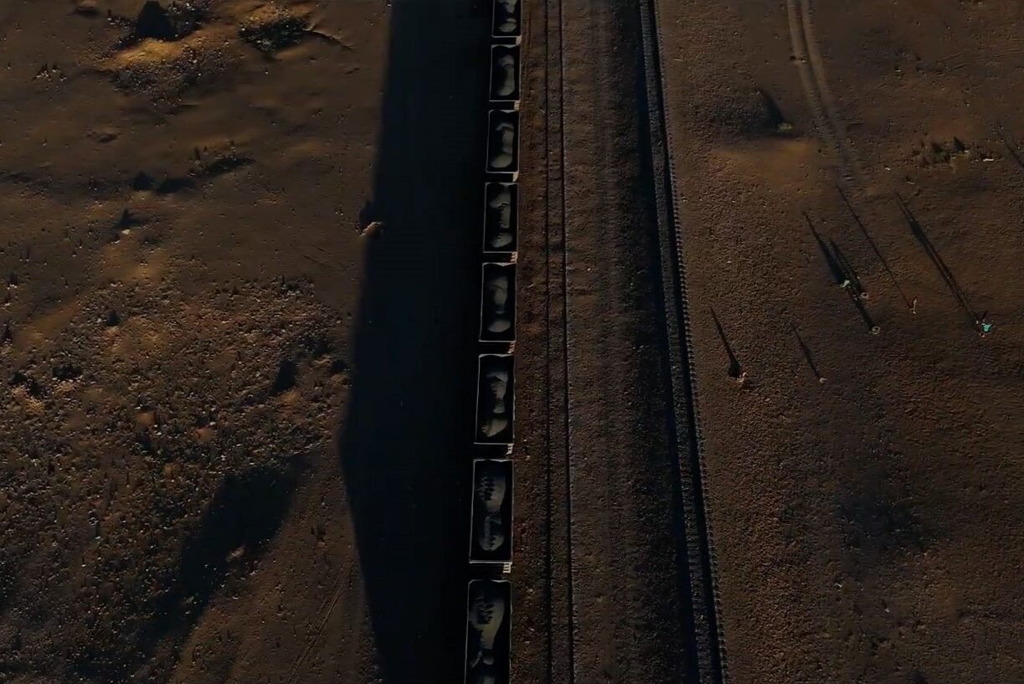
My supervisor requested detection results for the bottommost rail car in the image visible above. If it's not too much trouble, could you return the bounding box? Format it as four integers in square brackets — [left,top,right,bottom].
[464,577,511,684]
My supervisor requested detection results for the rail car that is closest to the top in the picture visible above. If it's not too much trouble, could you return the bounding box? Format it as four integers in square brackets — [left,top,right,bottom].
[493,0,523,55]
